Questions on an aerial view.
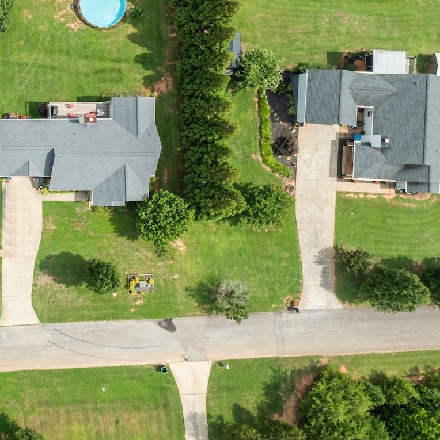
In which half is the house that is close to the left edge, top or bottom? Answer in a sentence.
You can find the house that is close to the left edge in the top half.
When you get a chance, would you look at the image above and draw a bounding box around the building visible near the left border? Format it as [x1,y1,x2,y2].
[0,95,165,206]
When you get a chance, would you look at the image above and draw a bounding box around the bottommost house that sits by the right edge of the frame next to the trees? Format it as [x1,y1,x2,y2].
[295,69,440,195]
